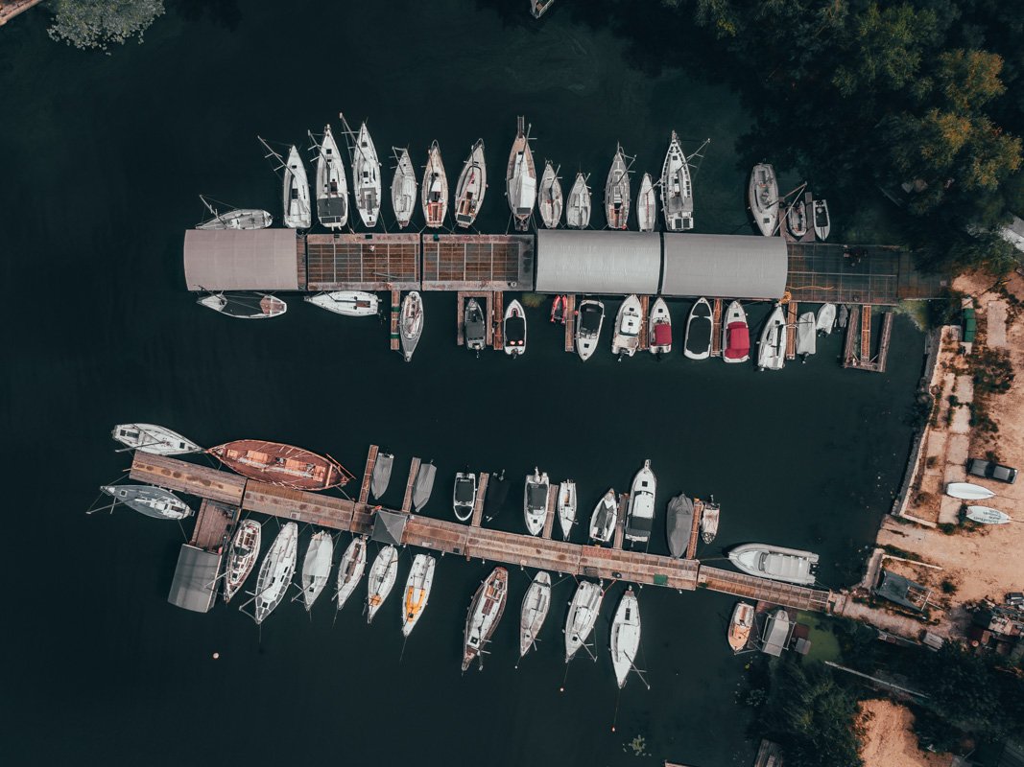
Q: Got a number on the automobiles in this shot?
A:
1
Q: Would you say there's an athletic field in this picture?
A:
No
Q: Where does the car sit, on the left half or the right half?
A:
right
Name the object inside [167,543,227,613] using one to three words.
shed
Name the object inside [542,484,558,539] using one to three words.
pier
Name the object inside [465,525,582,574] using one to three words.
pier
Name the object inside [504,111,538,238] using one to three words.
boat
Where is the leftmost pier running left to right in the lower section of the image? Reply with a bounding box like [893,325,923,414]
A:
[129,450,248,507]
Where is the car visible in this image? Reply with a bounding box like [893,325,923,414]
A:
[964,457,1019,485]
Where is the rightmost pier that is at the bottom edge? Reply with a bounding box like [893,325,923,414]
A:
[752,738,777,767]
